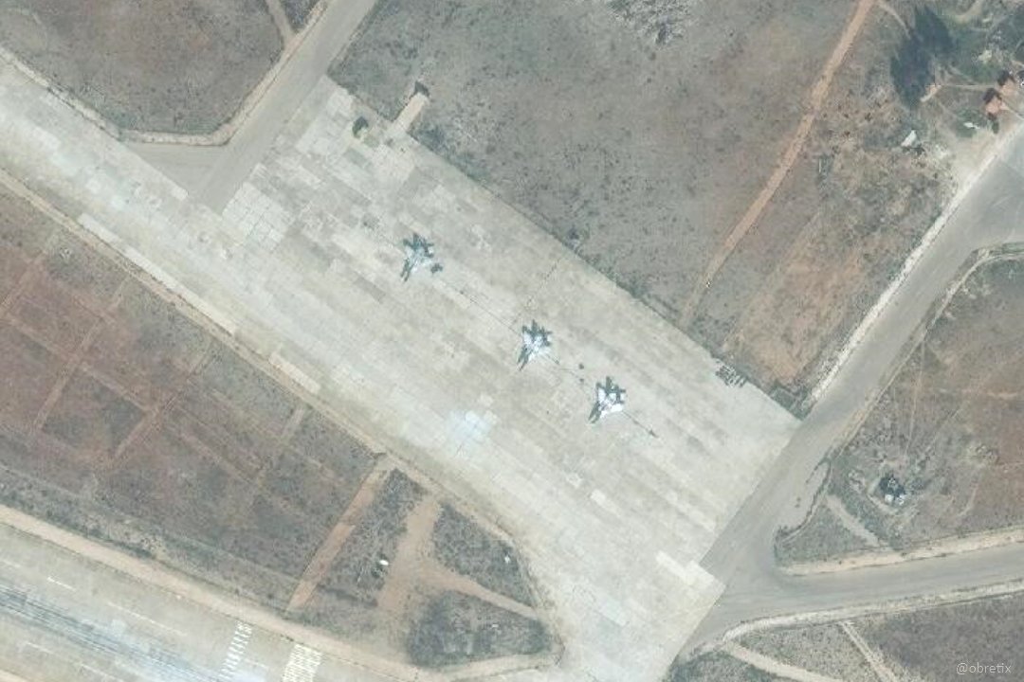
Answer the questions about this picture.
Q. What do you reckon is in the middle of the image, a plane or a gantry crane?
plane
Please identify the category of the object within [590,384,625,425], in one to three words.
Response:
airplane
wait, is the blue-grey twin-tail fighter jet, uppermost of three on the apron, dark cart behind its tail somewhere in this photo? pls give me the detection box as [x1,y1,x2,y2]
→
[404,241,435,282]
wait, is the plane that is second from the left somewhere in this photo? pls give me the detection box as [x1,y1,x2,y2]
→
[519,328,551,371]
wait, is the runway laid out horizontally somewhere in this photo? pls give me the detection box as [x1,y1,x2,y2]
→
[0,523,396,682]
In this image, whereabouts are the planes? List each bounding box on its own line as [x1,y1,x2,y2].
[590,384,625,425]
[404,241,435,282]
[519,328,551,371]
